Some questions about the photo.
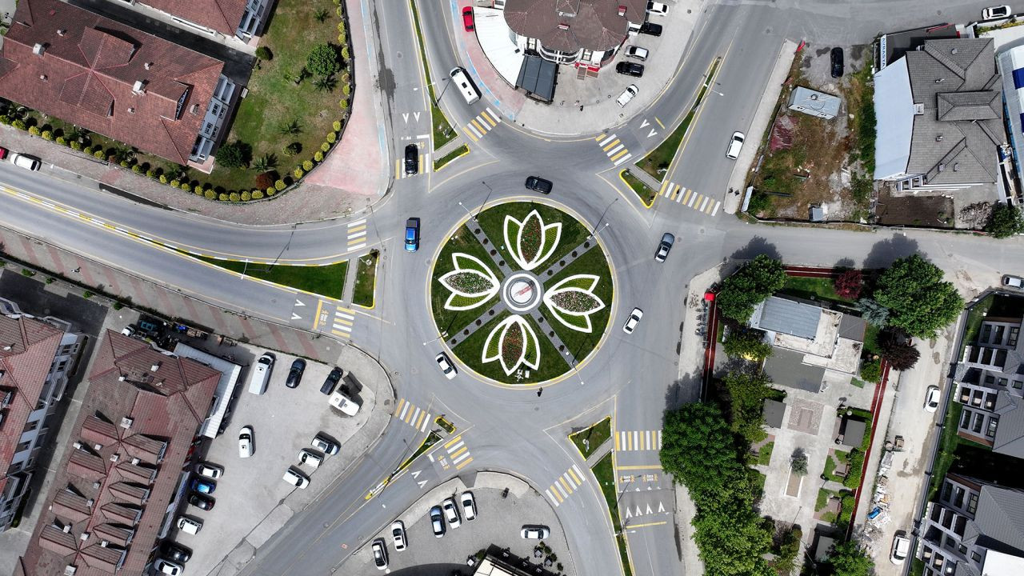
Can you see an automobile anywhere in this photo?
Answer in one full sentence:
Yes, the frame does contain an automobile.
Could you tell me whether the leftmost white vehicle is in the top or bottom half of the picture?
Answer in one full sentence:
The leftmost white vehicle is in the top half of the image.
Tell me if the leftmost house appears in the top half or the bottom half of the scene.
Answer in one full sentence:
Seen from above, the leftmost house lies in the bottom half of the view.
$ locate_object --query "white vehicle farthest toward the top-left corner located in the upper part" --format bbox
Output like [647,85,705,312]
[7,151,44,172]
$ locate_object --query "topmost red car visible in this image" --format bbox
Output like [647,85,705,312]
[461,6,474,32]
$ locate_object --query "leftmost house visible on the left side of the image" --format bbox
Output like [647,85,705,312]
[0,294,92,503]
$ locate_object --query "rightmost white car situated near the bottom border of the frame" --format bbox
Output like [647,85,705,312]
[888,531,908,566]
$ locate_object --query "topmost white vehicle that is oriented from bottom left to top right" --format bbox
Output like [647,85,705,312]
[616,82,639,109]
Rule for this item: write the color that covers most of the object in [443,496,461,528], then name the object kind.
white car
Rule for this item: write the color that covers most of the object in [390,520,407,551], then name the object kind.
white car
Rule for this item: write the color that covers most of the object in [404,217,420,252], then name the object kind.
blue vehicle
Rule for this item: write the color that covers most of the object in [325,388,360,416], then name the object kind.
white trailer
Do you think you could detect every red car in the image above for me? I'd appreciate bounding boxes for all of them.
[461,6,474,32]
[0,148,6,161]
